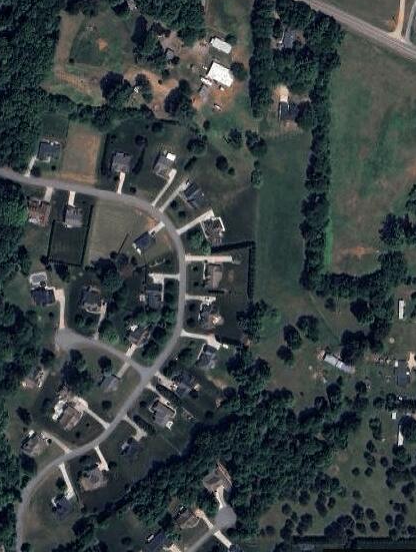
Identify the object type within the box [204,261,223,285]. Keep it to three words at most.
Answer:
house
